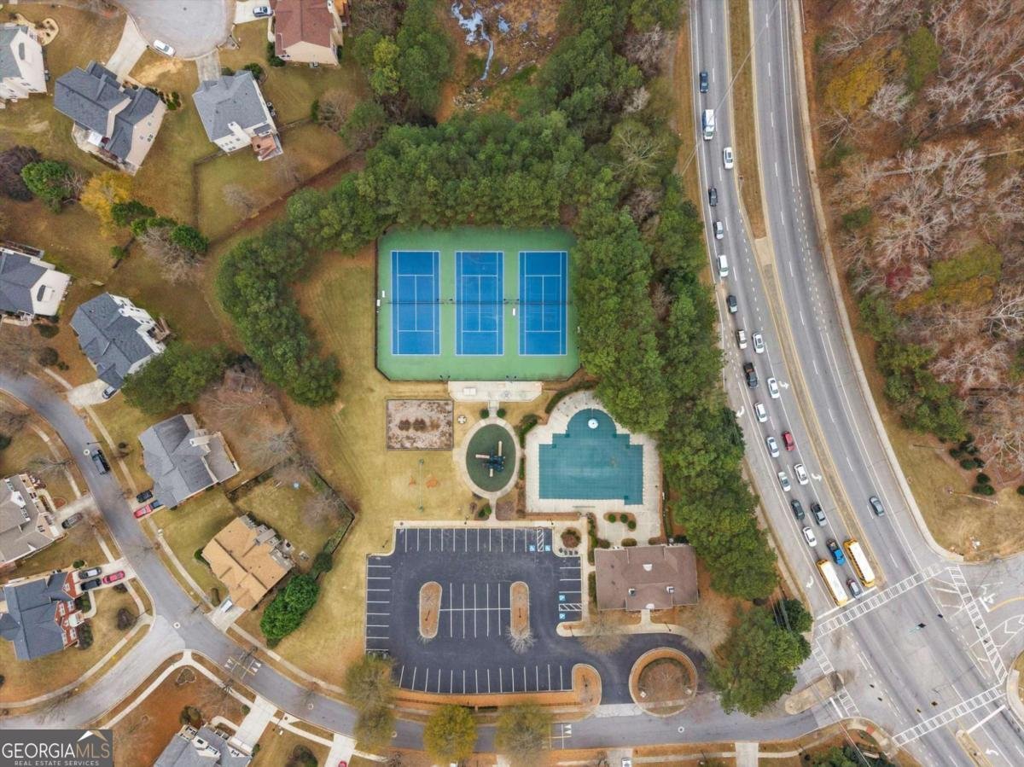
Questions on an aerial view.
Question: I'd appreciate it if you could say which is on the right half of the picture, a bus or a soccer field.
bus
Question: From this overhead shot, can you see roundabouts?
Yes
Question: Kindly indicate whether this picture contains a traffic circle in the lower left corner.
No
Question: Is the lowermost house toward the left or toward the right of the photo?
left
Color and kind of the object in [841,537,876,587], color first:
white bus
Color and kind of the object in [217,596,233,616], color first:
white vehicle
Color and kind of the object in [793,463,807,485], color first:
white car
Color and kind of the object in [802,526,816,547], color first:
white car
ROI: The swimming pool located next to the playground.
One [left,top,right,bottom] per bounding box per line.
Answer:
[526,390,661,547]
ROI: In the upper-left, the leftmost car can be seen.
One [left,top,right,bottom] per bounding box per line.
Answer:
[153,38,176,57]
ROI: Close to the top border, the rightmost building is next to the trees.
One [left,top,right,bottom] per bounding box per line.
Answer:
[265,0,351,63]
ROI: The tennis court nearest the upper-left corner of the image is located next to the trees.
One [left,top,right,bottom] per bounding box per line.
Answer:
[387,251,443,355]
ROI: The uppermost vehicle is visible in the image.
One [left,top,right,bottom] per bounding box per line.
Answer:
[245,3,273,17]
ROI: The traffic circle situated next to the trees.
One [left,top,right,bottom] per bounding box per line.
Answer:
[628,647,698,717]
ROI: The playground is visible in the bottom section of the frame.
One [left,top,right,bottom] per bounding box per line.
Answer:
[453,416,526,520]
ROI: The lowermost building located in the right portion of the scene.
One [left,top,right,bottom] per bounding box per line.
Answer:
[594,544,697,611]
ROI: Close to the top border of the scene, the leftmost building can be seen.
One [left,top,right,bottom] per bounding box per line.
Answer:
[0,24,45,95]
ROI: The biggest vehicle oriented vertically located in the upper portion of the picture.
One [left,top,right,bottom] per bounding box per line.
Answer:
[702,107,716,142]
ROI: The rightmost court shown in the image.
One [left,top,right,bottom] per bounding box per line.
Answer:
[515,251,572,355]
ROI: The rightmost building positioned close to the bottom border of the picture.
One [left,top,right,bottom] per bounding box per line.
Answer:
[155,720,259,767]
